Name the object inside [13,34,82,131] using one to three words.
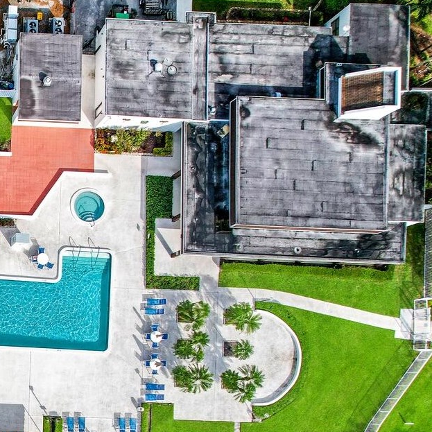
building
